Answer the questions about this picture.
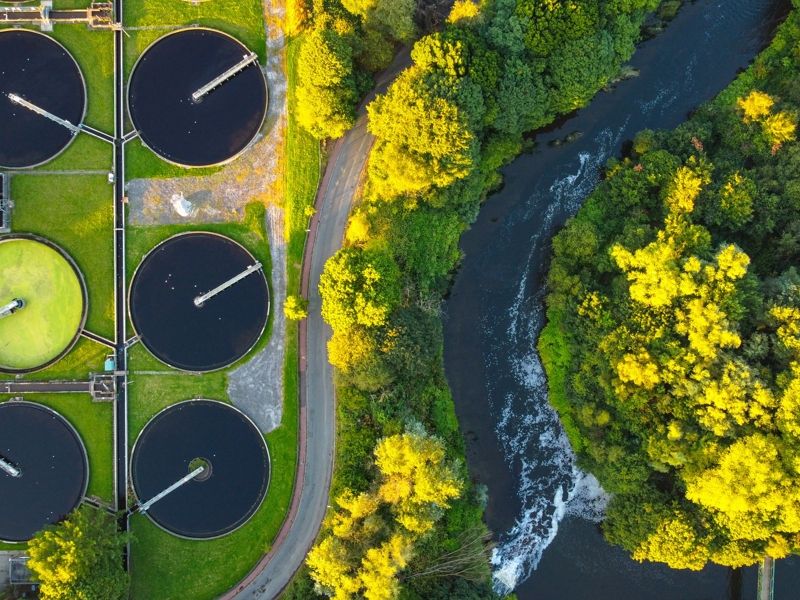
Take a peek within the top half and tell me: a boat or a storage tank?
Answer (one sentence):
The one visible within the top half is a storage tank.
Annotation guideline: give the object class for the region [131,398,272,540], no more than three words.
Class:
storage tank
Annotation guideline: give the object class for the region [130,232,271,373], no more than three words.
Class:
storage tank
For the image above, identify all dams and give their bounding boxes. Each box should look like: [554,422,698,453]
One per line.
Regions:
[497,455,591,600]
